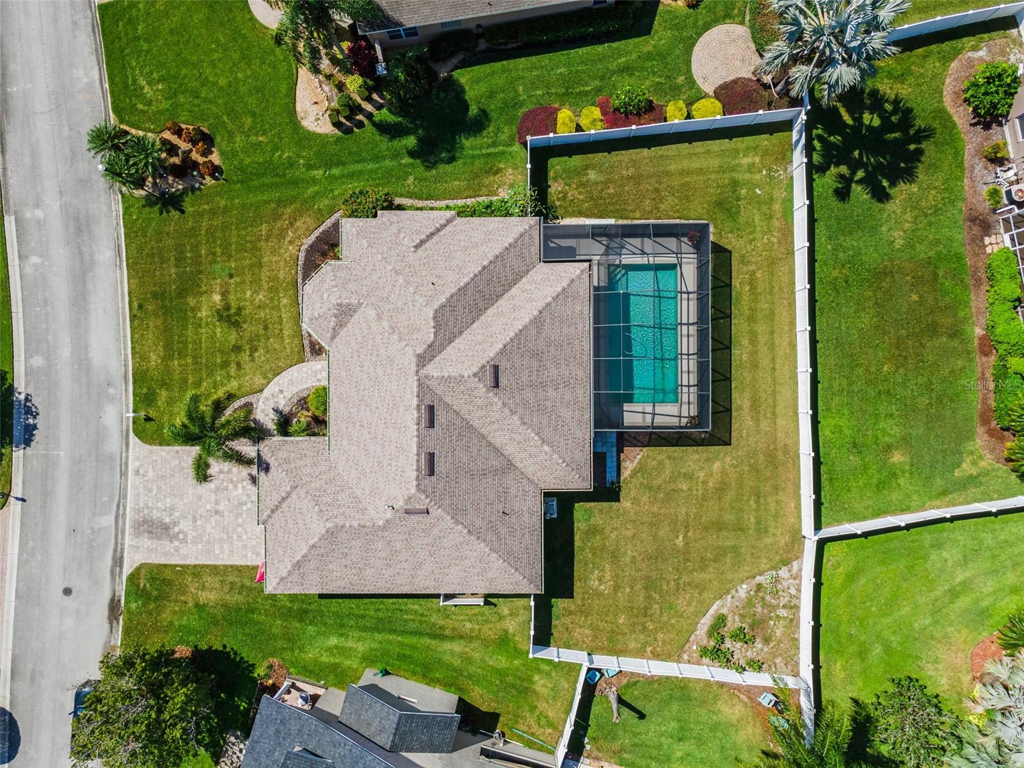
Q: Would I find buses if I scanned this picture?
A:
No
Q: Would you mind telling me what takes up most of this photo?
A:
grass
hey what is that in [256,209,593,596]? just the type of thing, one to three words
house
